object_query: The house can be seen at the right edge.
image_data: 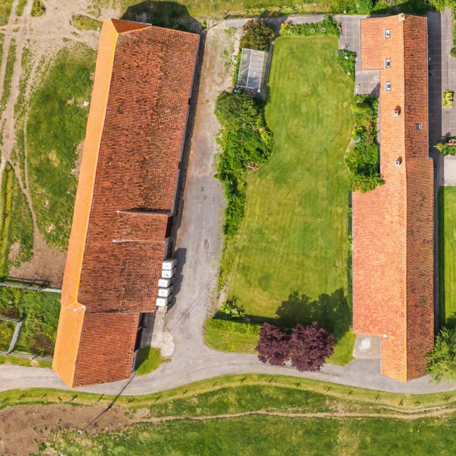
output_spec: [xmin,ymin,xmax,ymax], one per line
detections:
[351,14,436,382]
